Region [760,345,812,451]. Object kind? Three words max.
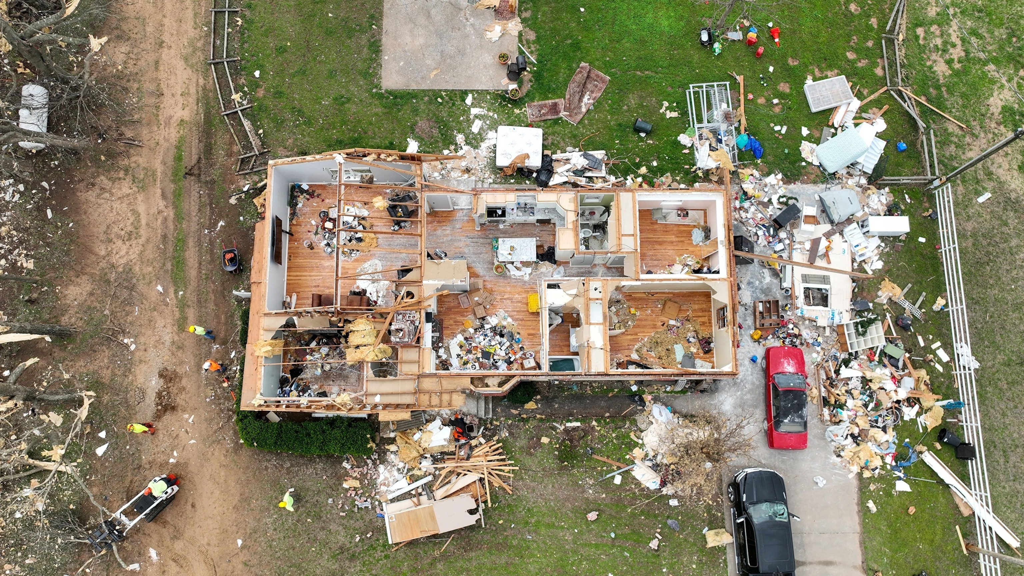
car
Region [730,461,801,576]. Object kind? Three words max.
truck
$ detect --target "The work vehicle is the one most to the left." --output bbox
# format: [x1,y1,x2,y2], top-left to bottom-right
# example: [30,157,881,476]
[94,468,183,552]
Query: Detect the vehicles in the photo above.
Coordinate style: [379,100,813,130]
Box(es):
[730,461,801,576]
[760,345,812,451]
[94,468,183,552]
